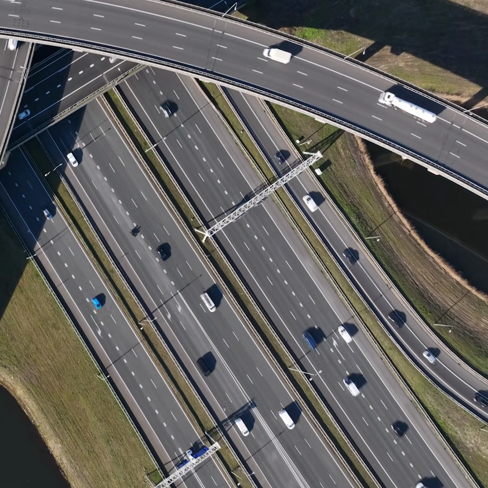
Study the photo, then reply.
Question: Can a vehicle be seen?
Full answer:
Yes, there's a vehicle here.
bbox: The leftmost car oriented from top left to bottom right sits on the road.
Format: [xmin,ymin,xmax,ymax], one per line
[40,207,53,222]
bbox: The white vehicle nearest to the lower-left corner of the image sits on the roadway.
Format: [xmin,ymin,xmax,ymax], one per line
[234,416,249,436]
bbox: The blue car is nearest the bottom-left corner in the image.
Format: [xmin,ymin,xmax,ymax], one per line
[90,293,103,310]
